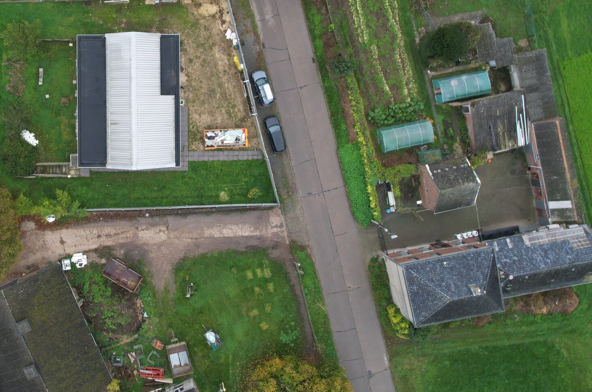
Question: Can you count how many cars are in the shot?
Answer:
2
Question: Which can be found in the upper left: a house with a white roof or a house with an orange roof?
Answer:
house with a white roof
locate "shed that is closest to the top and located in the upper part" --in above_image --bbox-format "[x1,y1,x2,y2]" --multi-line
[469,23,515,66]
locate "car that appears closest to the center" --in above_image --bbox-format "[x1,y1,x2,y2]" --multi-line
[265,116,288,153]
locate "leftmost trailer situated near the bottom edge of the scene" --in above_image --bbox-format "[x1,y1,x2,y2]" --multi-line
[168,338,193,380]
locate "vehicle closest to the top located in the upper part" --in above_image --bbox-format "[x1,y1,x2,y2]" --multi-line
[252,69,275,107]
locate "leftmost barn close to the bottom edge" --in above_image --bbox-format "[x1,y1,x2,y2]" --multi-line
[0,258,120,392]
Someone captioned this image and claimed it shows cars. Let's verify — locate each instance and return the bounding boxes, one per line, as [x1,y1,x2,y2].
[252,69,275,107]
[265,116,288,153]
